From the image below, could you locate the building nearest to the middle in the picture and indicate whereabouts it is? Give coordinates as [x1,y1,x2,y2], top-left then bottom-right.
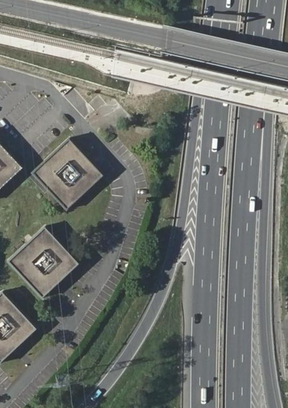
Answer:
[32,138,106,211]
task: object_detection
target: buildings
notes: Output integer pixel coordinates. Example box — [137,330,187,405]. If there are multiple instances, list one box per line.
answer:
[7,226,82,298]
[0,142,24,190]
[32,138,106,211]
[0,292,39,364]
